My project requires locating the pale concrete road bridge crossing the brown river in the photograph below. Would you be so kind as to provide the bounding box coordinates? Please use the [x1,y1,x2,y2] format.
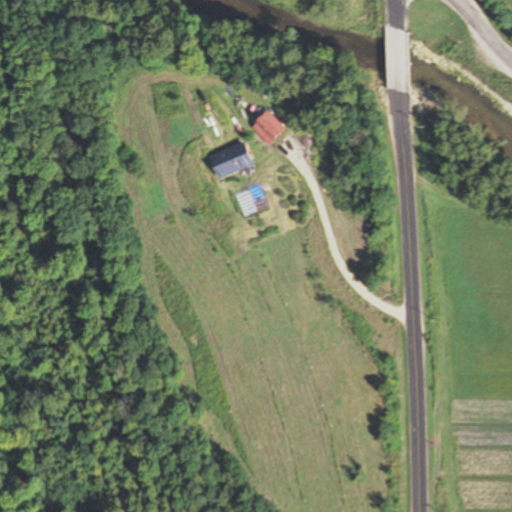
[385,24,412,94]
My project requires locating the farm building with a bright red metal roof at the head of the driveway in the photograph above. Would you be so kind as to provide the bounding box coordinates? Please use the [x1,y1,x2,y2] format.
[252,110,285,143]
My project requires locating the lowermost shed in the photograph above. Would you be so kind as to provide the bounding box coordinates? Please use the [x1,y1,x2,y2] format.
[236,184,269,218]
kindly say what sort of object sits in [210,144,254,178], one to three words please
house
